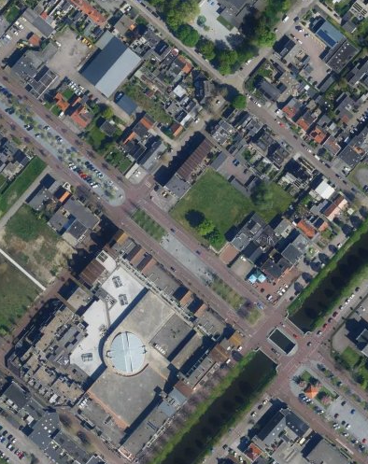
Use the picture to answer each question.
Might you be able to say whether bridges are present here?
Yes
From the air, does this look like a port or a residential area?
residential area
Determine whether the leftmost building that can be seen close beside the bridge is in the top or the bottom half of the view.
bottom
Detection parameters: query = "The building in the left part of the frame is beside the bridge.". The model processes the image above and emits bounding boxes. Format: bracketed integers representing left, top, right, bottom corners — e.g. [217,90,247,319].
[6,238,245,463]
